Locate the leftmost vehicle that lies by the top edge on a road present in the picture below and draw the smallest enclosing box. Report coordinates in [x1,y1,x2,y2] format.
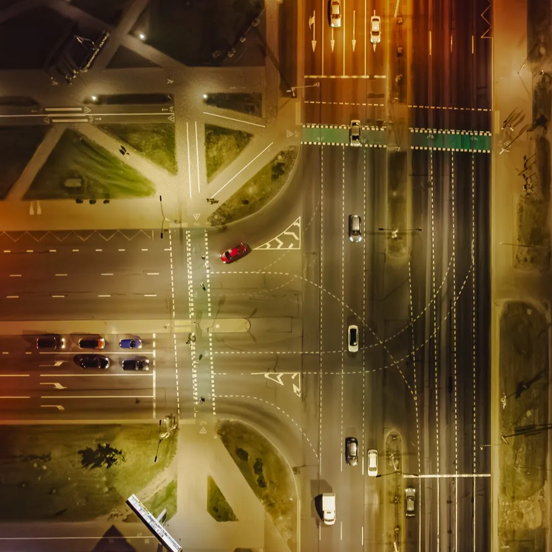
[327,0,341,26]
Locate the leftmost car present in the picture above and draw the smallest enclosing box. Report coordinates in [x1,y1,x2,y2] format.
[35,336,65,349]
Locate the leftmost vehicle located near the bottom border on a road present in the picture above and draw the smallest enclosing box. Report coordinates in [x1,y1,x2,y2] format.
[321,493,336,526]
